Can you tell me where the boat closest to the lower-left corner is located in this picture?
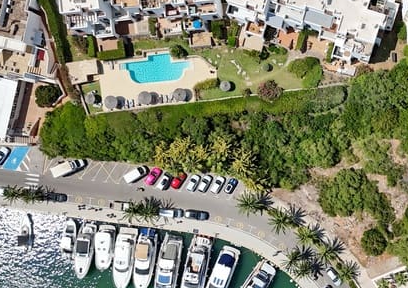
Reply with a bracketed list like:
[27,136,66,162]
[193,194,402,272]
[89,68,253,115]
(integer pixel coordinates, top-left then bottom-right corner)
[18,215,34,249]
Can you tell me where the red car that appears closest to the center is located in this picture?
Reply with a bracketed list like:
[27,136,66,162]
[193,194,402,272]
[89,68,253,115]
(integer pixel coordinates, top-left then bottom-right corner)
[171,169,187,191]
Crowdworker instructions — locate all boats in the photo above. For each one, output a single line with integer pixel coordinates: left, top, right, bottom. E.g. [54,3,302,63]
[18,215,34,249]
[114,225,139,288]
[156,233,186,288]
[61,220,78,258]
[96,226,117,271]
[134,231,157,288]
[181,232,212,288]
[74,224,99,278]
[207,244,242,288]
[242,259,279,288]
